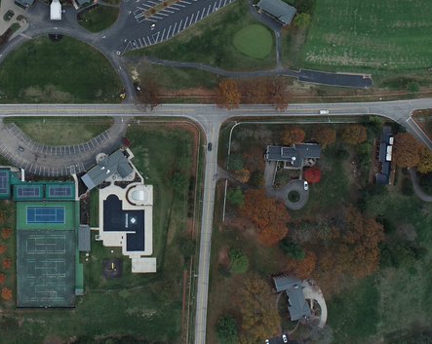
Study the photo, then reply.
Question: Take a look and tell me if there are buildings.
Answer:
Yes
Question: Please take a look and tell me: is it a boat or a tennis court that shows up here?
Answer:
tennis court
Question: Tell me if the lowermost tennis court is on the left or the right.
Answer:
left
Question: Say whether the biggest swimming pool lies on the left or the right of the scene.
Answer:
left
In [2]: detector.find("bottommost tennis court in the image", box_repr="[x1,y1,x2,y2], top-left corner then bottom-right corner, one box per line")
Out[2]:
[17,280,75,309]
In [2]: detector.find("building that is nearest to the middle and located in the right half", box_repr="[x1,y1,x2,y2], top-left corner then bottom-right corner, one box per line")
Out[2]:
[266,144,322,168]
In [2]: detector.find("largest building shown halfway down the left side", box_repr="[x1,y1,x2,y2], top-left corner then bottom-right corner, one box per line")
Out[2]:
[81,149,134,192]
